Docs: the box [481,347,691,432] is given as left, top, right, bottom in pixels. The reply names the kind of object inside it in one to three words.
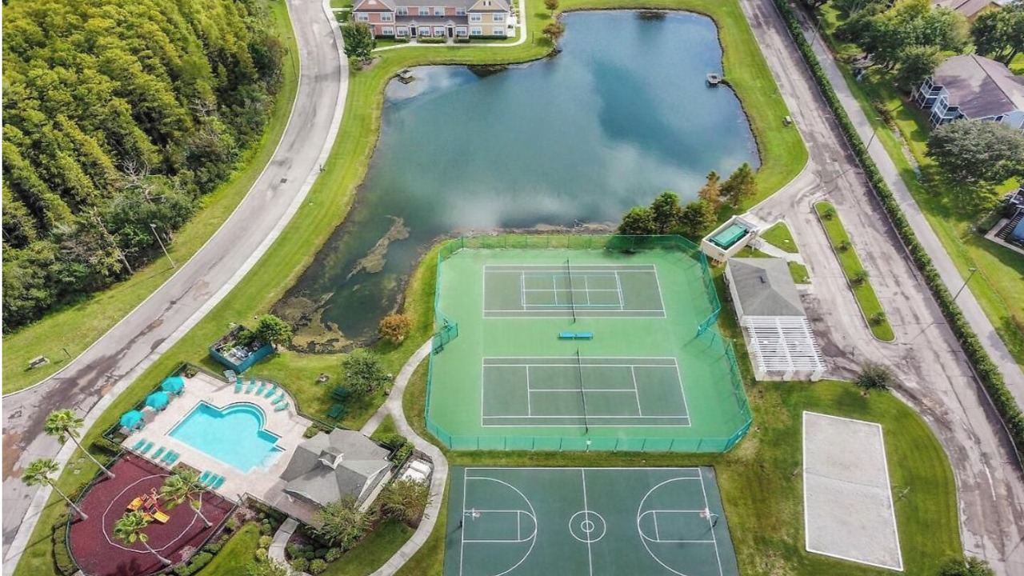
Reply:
tennis court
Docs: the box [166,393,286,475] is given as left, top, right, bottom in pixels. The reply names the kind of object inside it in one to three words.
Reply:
swimming pool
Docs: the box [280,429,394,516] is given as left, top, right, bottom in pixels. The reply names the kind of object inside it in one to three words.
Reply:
building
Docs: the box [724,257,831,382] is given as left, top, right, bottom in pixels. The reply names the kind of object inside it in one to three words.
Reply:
building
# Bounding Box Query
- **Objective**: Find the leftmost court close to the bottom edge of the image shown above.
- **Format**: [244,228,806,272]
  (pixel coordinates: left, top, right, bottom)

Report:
[443,467,738,576]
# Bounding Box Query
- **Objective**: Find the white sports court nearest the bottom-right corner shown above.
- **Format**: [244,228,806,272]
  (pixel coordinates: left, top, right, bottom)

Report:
[786,410,911,571]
